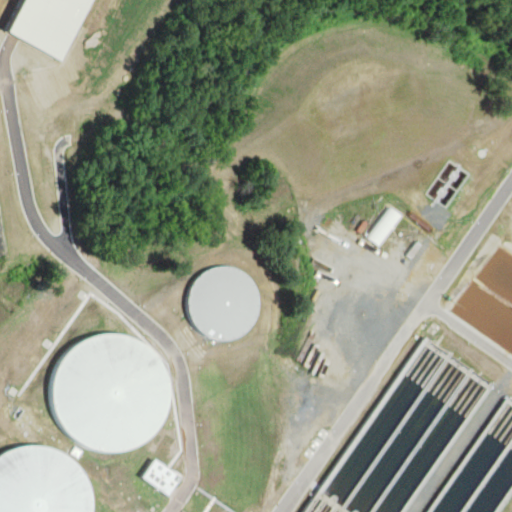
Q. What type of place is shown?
industrial area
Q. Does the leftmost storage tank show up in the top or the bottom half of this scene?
bottom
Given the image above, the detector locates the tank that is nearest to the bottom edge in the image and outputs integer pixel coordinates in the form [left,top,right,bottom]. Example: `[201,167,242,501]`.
[0,444,96,512]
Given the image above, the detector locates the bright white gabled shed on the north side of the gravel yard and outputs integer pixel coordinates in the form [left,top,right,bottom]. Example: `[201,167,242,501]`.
[364,206,403,248]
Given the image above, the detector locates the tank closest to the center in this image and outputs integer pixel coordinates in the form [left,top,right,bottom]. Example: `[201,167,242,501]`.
[184,266,260,339]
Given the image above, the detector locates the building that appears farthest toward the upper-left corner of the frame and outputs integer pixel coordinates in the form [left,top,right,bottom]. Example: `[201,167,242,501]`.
[8,0,96,62]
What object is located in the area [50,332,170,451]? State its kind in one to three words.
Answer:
storage tank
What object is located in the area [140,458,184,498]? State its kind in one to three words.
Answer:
building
